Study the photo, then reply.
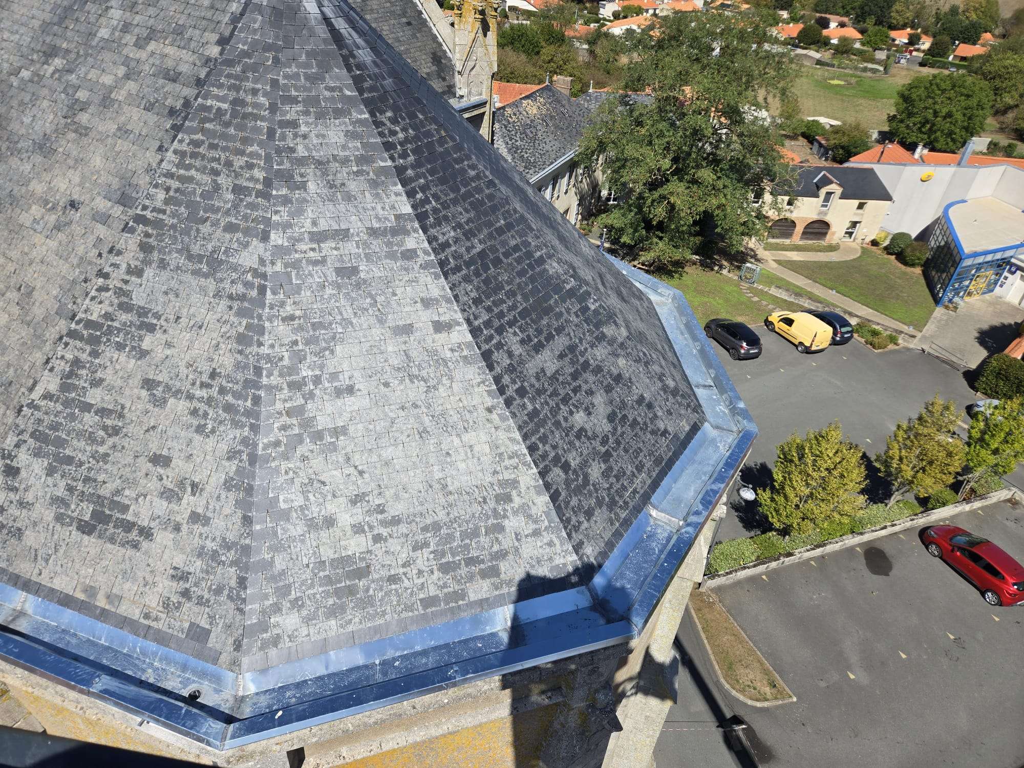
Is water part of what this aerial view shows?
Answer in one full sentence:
No, the scene doesn't show any water.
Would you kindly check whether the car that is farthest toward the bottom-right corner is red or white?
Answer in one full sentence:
The car that is farthest toward the bottom-right corner is red.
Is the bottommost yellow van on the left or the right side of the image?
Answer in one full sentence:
You can find the bottommost yellow van on the right side of the picture.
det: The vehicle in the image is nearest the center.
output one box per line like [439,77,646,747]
[705,316,764,360]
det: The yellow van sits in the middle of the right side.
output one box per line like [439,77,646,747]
[765,310,832,354]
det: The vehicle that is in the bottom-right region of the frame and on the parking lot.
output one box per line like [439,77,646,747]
[923,521,1024,608]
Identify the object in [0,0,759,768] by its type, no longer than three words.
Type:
church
